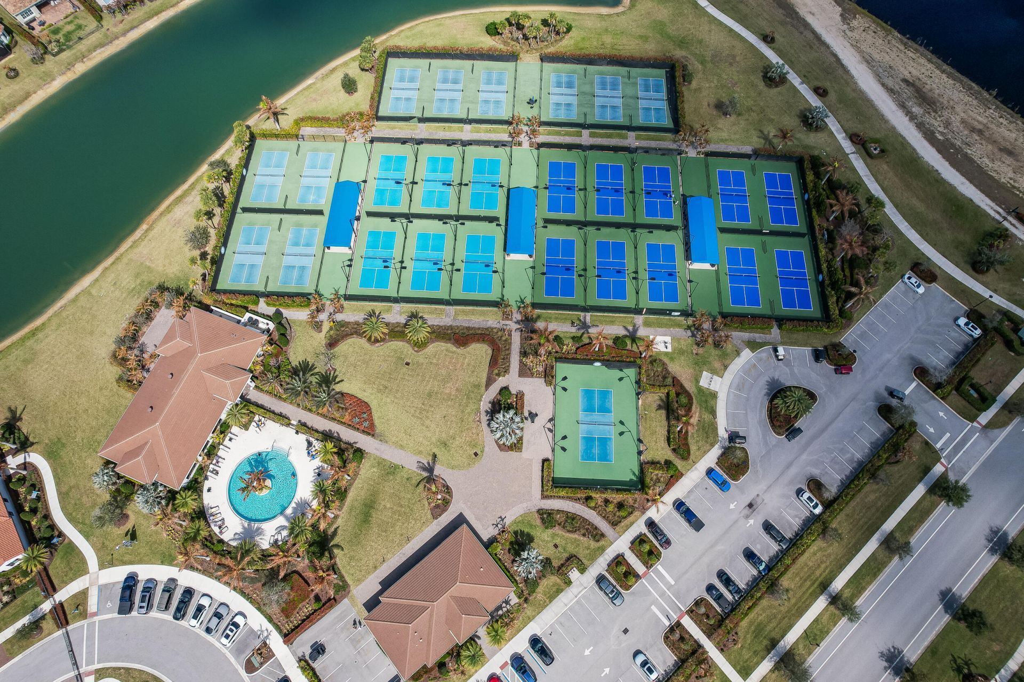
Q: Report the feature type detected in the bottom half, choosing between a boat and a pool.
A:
pool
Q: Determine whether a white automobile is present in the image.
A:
Yes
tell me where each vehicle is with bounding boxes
[118,576,139,614]
[219,612,247,648]
[743,547,769,576]
[833,365,855,375]
[189,594,213,629]
[674,499,705,532]
[511,653,538,682]
[704,582,735,616]
[173,587,197,621]
[705,467,732,493]
[900,274,925,296]
[953,317,983,339]
[632,650,660,682]
[812,350,827,363]
[155,576,179,613]
[597,574,623,606]
[204,603,230,637]
[716,569,745,601]
[762,520,791,550]
[784,427,806,441]
[727,435,748,444]
[646,518,672,549]
[529,635,555,667]
[135,579,158,614]
[309,641,328,662]
[774,348,786,361]
[797,488,824,516]
[887,389,909,400]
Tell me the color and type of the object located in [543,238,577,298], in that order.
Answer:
blue sports court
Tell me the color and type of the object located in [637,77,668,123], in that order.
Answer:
blue sports court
